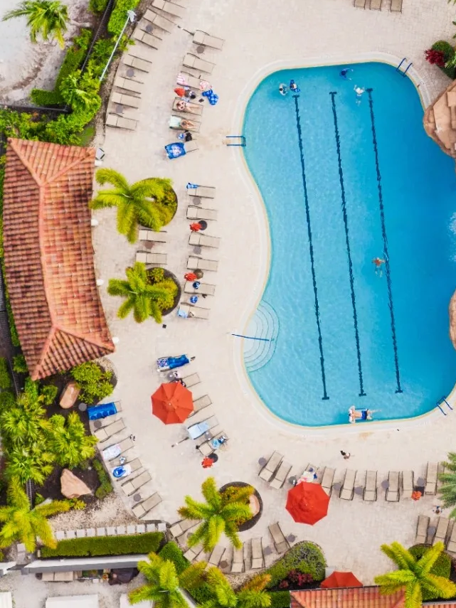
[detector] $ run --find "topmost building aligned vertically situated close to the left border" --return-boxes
[0,136,115,382]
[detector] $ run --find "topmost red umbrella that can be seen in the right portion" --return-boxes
[287,482,329,524]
